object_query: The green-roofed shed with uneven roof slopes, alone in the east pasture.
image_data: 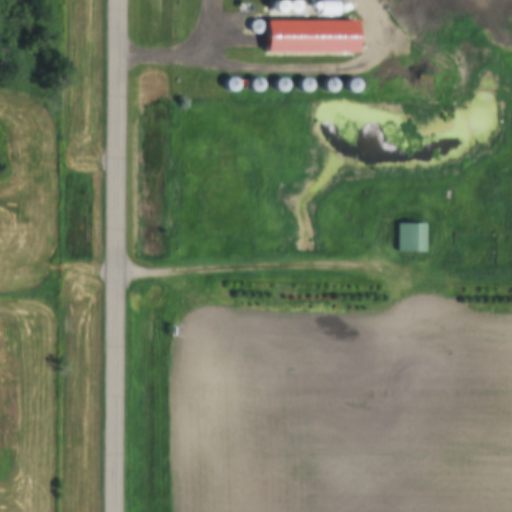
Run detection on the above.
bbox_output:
[399,222,429,252]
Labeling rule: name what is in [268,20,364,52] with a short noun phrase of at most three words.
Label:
barn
